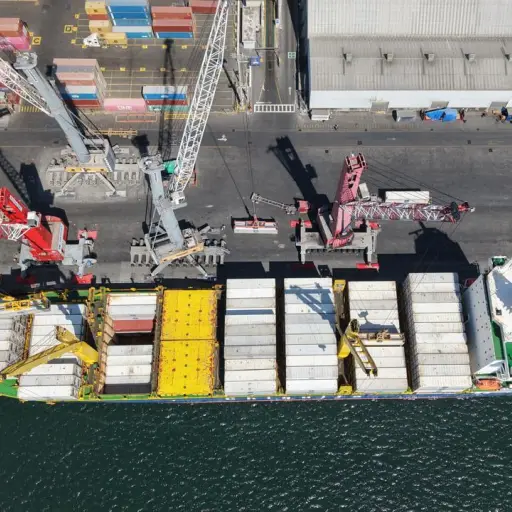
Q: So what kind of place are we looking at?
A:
port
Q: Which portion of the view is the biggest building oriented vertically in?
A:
top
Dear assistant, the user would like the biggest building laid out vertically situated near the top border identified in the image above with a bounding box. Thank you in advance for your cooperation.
[240,0,262,54]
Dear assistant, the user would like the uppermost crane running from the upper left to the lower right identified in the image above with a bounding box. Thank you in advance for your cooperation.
[0,40,128,196]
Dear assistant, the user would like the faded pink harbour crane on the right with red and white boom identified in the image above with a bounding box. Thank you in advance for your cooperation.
[296,151,476,336]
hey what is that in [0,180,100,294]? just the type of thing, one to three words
crane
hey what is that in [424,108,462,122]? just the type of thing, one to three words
vehicle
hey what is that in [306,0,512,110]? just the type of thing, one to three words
building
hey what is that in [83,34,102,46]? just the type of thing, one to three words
vehicle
